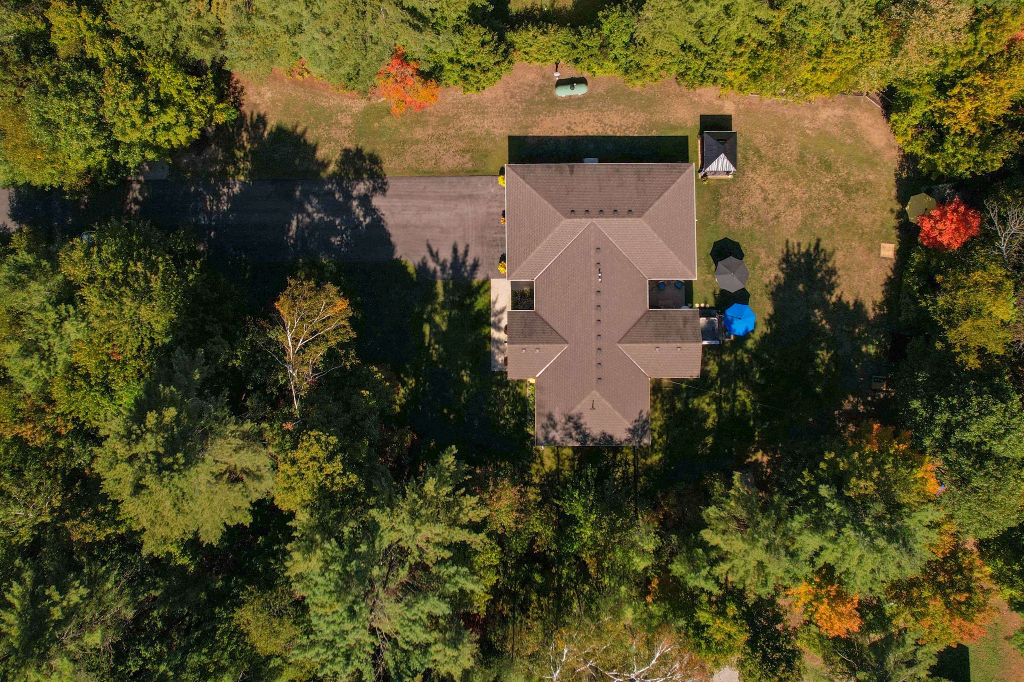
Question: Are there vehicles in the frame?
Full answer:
No, there is no vehicle in the image.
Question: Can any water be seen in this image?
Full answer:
No, the picture contains no water.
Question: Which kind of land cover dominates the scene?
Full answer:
The scene is dominated by trees.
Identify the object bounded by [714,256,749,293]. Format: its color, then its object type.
gray umbrella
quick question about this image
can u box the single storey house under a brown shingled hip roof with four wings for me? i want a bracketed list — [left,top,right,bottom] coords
[503,161,704,452]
